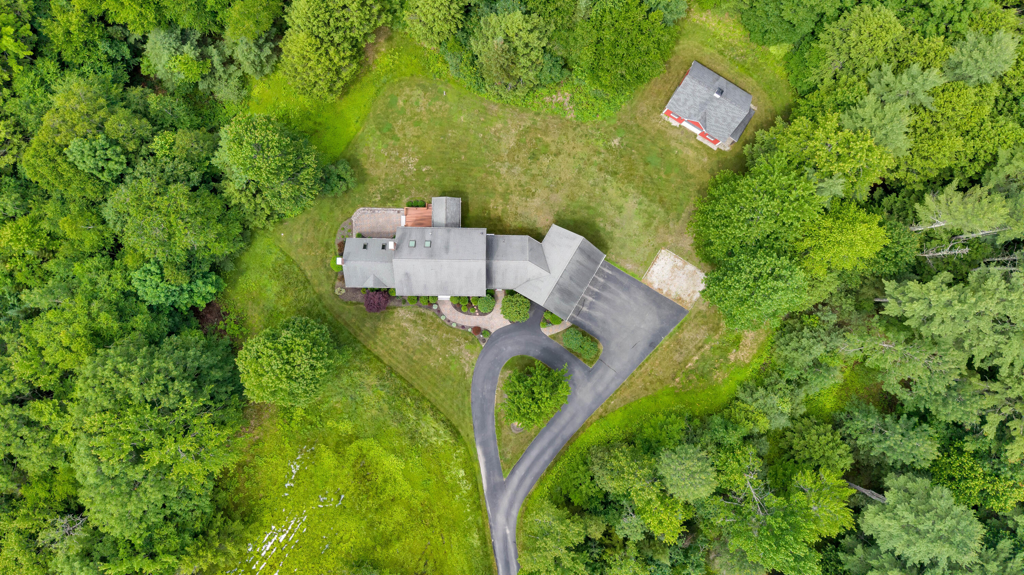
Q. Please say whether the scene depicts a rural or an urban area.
rural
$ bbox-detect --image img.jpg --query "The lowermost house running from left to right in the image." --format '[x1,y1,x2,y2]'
[336,196,607,321]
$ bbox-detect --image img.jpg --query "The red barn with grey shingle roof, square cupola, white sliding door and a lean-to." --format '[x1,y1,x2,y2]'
[663,60,755,145]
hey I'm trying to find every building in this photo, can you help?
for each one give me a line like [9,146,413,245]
[336,196,607,321]
[663,60,755,145]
